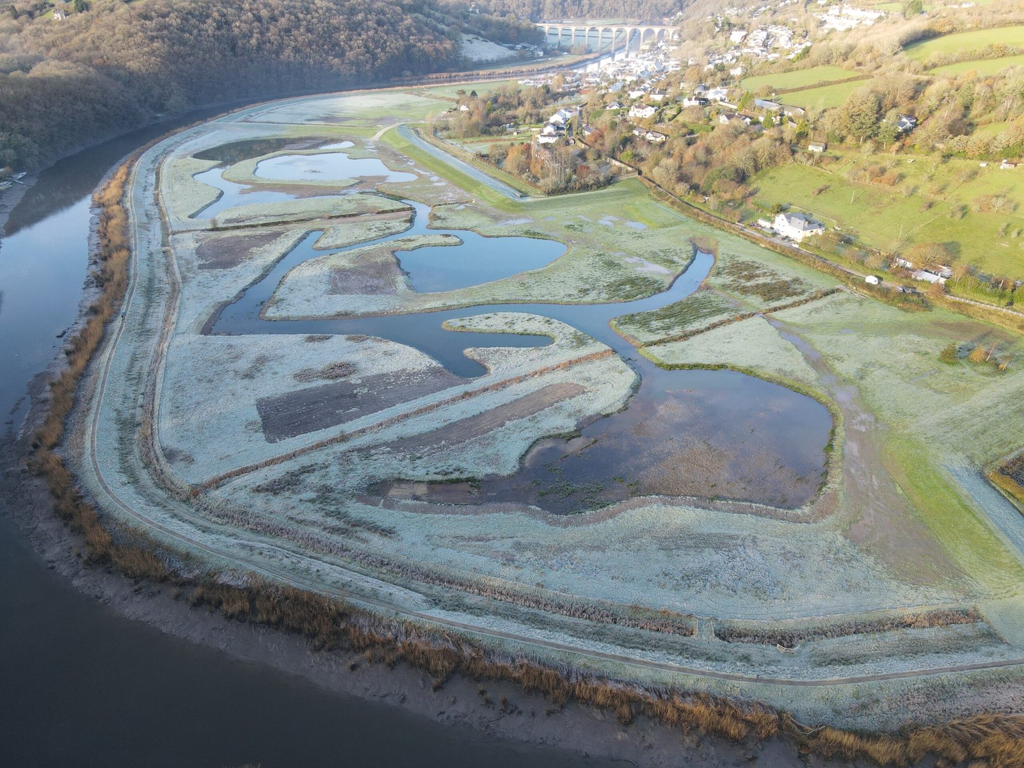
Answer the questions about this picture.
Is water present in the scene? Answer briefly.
Yes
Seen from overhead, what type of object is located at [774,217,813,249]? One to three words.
house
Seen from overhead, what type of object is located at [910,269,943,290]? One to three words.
shed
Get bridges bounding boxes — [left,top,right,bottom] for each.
[533,24,687,50]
